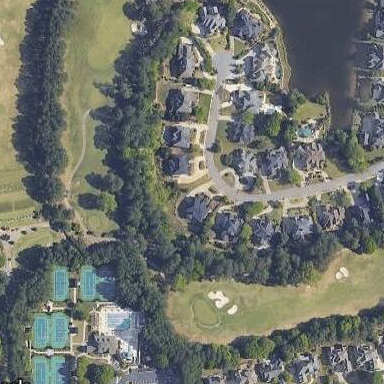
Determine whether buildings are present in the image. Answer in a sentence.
Yes, the picture does show a building.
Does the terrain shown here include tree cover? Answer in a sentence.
Yes, the picture does contain tree cover.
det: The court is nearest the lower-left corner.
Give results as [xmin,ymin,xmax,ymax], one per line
[34,356,52,384]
